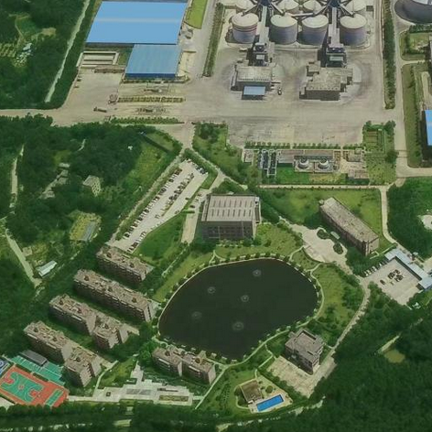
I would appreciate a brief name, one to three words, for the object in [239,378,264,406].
building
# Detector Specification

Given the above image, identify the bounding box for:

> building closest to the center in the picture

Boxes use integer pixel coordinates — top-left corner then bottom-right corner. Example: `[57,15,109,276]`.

[203,194,260,239]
